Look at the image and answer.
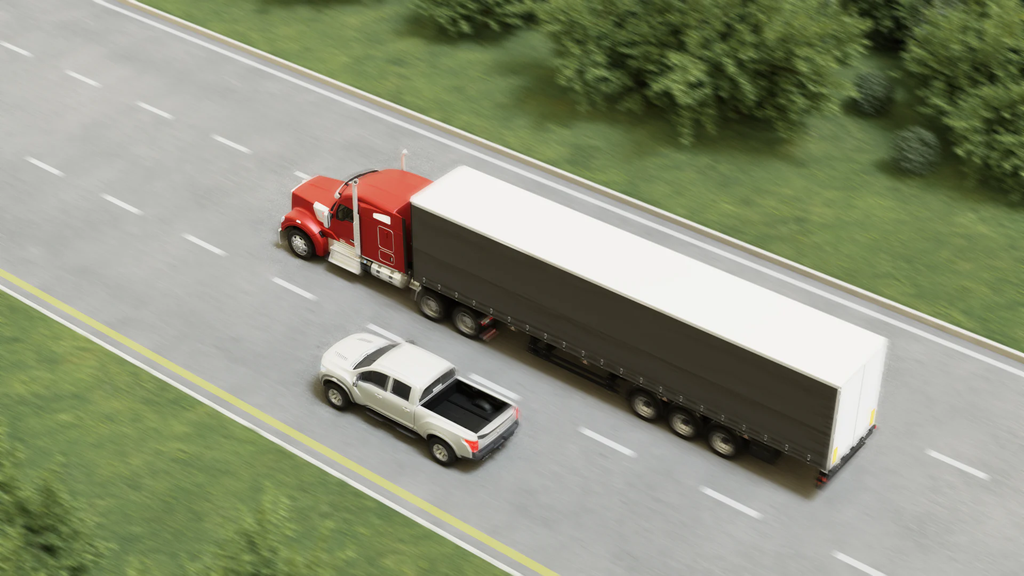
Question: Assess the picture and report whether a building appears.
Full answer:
No, I find no building anywhere in the image.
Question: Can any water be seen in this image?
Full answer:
No, water can't be seen anywhere here.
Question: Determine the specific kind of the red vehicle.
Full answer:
From above, the red vehicle can be identified as a truck.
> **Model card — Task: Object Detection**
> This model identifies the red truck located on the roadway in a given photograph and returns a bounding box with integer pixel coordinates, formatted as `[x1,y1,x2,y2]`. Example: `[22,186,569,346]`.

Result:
[279,147,499,342]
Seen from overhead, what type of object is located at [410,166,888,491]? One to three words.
trailer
